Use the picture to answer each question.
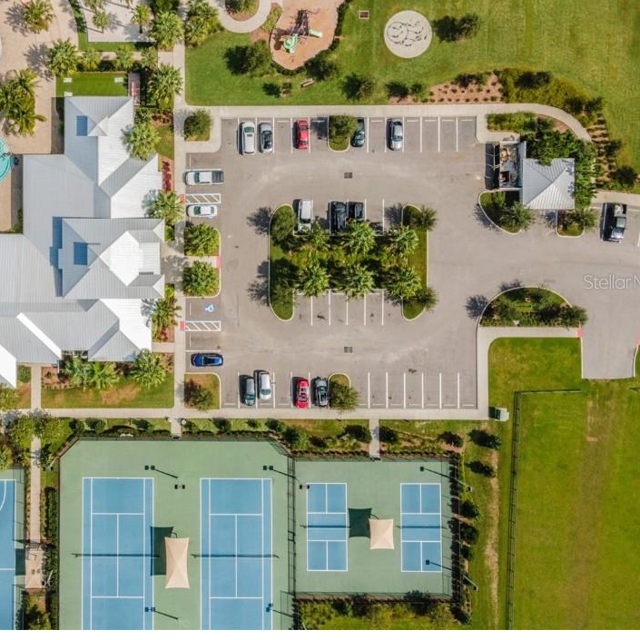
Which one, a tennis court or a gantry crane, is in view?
tennis court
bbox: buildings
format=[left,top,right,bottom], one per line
[516,159,574,209]
[0,98,164,390]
